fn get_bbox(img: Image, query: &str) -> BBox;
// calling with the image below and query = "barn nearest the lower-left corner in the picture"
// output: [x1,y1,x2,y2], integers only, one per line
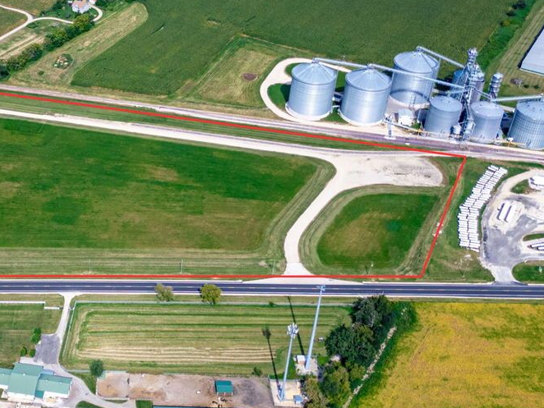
[0,363,74,401]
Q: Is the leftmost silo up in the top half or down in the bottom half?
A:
top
